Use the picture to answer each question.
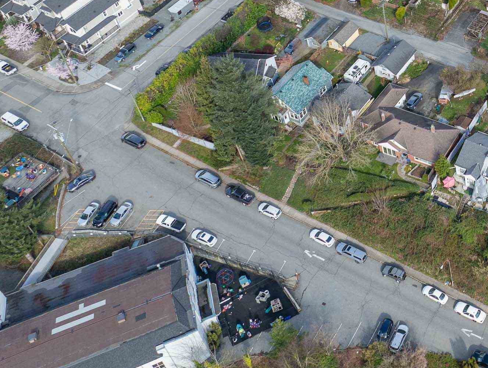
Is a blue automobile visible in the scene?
Yes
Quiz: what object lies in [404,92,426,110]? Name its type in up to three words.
car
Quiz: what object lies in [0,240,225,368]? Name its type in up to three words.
building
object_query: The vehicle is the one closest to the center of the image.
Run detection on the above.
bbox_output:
[224,188,254,206]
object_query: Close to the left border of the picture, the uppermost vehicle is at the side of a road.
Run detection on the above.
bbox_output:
[0,62,17,74]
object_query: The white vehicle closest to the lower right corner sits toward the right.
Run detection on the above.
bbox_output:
[455,304,486,325]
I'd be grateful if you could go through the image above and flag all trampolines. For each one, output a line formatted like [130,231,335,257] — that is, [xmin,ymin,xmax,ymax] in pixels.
[253,16,275,36]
